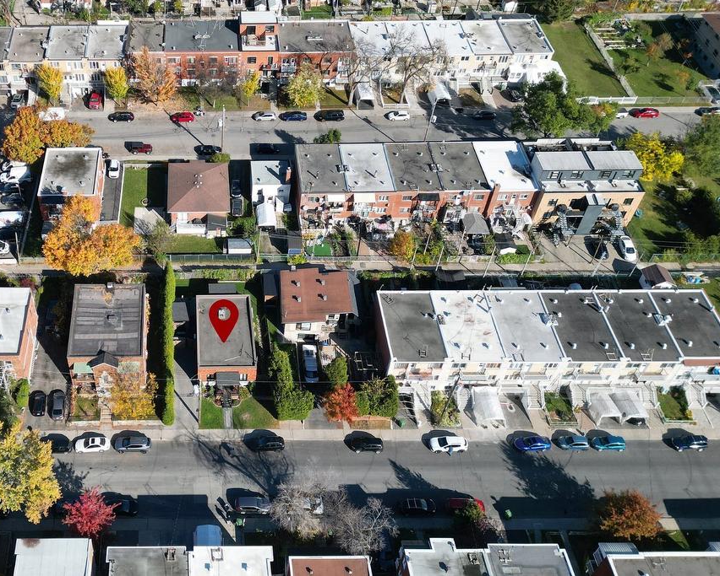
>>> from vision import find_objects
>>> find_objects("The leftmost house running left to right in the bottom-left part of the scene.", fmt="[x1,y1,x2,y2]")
[10,539,96,576]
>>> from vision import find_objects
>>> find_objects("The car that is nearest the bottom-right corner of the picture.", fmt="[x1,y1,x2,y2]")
[666,433,712,453]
